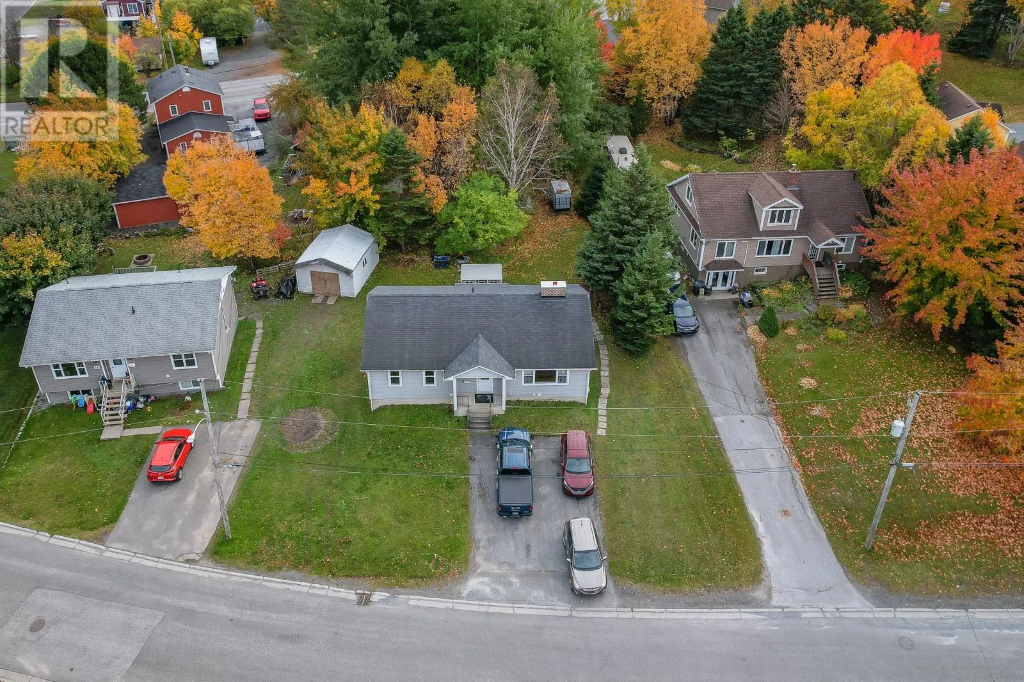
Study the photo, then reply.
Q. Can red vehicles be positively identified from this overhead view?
Yes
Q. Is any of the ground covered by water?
No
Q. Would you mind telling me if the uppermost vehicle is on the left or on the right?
left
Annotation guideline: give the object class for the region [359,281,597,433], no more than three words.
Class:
house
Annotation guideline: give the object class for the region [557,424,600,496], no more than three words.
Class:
car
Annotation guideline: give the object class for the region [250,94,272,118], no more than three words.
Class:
truck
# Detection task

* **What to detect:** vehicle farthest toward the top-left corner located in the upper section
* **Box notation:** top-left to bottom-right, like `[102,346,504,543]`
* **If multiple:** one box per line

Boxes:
[198,41,222,74]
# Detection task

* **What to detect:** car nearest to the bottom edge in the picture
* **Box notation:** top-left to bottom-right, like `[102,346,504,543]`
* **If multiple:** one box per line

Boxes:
[562,513,608,598]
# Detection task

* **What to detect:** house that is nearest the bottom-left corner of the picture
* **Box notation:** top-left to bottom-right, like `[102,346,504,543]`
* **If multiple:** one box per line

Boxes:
[16,266,243,425]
